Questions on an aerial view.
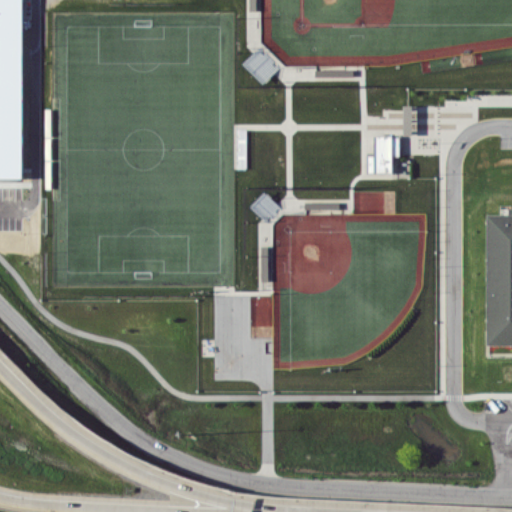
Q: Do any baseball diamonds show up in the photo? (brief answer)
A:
Yes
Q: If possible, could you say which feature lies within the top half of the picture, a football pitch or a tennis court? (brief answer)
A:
football pitch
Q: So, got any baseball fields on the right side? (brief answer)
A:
Yes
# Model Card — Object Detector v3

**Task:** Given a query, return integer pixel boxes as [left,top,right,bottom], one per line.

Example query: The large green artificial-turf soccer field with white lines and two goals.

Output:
[52,13,236,288]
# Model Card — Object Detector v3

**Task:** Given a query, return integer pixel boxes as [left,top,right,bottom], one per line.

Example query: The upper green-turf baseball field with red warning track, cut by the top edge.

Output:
[264,0,512,74]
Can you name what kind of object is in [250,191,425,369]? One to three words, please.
baseball field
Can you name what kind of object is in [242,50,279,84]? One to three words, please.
building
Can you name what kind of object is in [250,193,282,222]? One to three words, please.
building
